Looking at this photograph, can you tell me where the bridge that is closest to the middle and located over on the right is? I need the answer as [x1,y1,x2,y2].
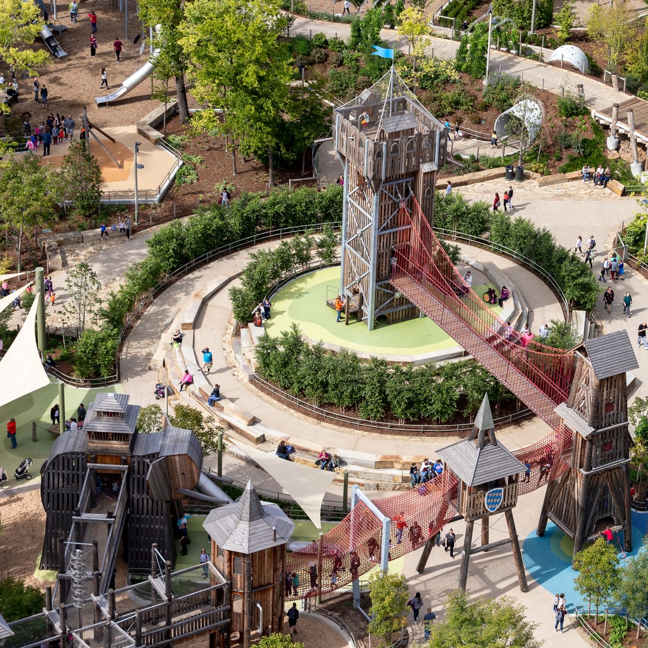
[387,202,572,460]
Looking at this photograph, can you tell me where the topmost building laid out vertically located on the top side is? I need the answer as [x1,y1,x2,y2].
[316,38,445,330]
